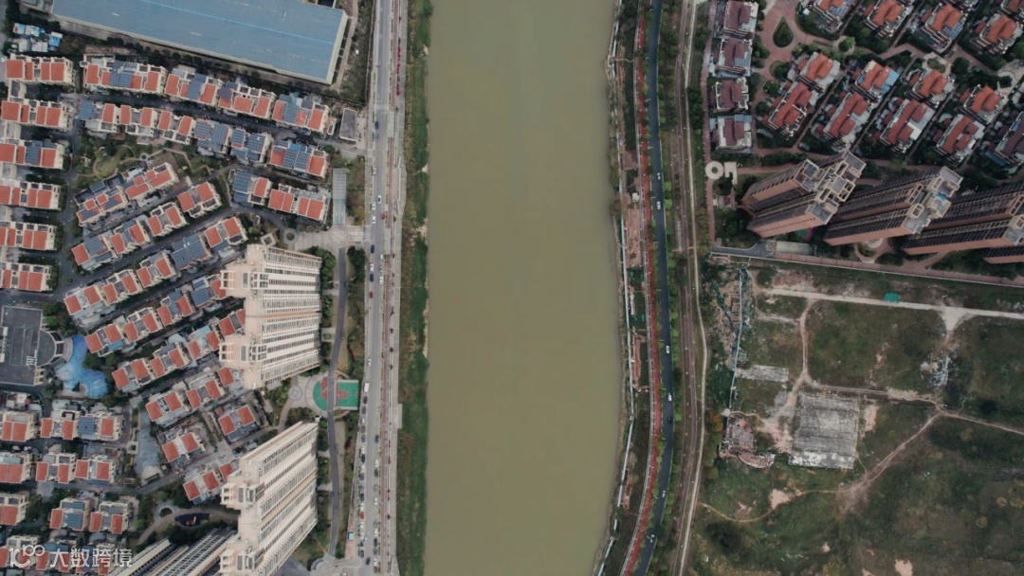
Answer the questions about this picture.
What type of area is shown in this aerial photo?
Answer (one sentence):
This looks like a residential area.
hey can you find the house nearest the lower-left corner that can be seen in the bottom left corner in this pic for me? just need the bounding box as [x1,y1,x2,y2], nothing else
[0,531,45,568]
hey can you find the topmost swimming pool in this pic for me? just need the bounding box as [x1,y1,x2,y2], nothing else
[55,333,109,400]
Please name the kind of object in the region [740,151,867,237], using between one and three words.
building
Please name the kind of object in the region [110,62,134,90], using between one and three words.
solar panel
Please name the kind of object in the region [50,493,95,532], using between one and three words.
house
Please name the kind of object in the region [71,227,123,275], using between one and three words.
house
